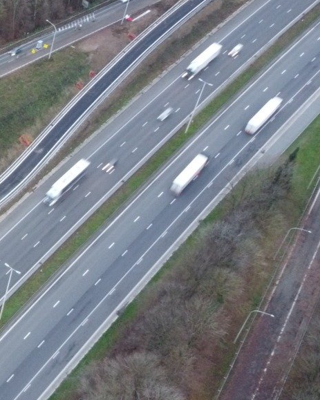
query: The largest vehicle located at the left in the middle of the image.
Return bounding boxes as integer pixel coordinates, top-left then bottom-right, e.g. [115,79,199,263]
[47,160,89,203]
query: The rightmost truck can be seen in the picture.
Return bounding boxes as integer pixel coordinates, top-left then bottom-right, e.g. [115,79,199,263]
[246,99,281,134]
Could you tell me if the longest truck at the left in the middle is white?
Yes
